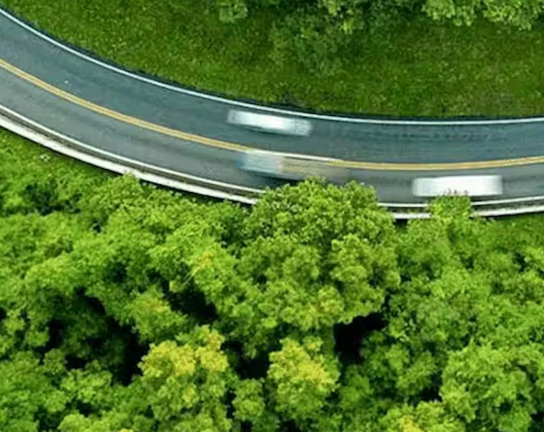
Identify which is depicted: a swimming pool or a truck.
truck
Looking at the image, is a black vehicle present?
No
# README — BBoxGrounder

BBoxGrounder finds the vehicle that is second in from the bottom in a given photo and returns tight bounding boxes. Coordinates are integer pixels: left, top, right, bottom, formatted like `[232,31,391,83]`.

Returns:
[240,146,355,186]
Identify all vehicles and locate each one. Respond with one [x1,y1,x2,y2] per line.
[240,146,355,186]
[237,109,304,137]
[416,176,500,201]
